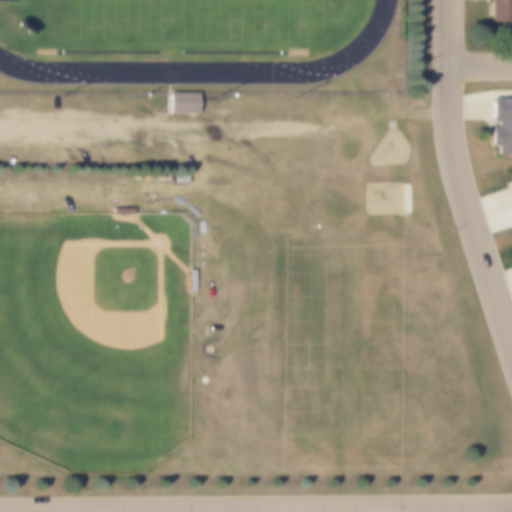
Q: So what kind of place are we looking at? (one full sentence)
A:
This looks like a sports ground.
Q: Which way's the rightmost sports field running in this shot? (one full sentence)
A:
The rightmost sports field is oriented from top to bottom.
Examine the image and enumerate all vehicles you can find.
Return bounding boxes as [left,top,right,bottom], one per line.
[210,282,216,296]
[35,497,49,502]
[65,196,76,210]
[484,254,491,266]
[211,324,224,330]
[54,96,60,108]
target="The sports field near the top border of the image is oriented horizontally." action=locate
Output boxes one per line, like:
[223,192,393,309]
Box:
[0,0,376,61]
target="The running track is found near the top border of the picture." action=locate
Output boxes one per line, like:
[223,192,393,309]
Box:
[0,0,398,83]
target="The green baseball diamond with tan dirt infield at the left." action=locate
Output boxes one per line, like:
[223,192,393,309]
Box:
[0,214,191,474]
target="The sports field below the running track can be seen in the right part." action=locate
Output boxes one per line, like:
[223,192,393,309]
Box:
[284,216,406,470]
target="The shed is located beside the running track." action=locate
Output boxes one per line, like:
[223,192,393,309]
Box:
[169,92,204,114]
